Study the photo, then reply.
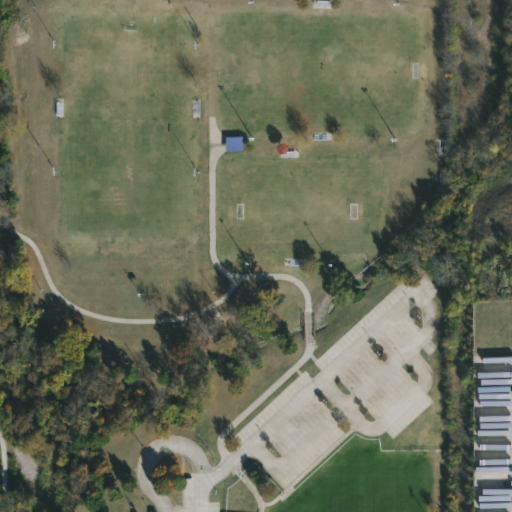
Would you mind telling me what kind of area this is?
sports ground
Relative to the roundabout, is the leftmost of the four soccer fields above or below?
above it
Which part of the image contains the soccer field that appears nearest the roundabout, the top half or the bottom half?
bottom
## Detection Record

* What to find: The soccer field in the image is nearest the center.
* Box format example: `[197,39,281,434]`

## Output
[217,157,386,256]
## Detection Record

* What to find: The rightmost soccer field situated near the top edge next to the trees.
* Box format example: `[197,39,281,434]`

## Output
[217,12,421,140]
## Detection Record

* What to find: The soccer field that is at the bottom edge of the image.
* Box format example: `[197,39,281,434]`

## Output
[264,435,432,512]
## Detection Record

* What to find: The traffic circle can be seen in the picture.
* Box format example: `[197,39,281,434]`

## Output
[138,436,208,512]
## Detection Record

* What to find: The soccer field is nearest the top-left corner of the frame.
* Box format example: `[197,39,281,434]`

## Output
[60,22,196,236]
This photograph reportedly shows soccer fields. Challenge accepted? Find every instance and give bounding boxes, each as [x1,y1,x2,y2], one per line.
[217,157,386,256]
[217,12,421,140]
[60,22,196,236]
[264,435,432,512]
